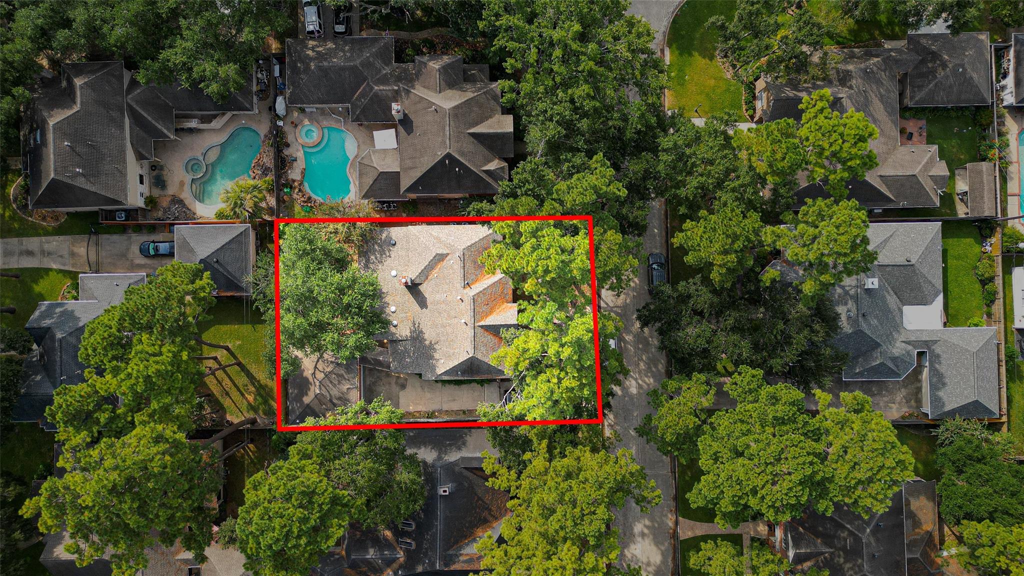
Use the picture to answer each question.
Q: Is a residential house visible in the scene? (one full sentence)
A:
Yes, the picture does show a residential house.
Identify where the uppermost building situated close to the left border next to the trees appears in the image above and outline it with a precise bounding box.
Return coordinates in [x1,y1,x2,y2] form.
[24,60,153,210]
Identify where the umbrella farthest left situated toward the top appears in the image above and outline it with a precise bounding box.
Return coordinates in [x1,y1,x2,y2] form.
[374,128,397,148]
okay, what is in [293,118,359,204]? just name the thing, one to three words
swimming pool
